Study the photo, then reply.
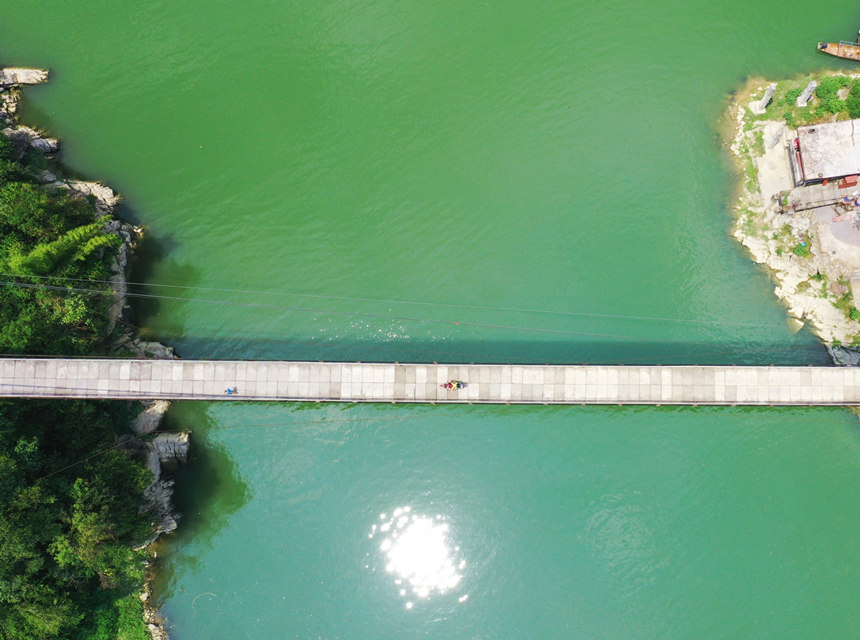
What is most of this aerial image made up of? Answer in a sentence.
What you mostly see from above here is water.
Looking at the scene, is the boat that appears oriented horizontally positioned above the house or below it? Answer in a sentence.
The boat that appears oriented horizontally appears above the house in the picture.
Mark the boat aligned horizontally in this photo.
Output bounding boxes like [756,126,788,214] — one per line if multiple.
[815,37,860,60]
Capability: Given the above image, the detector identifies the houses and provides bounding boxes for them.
[786,119,860,189]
